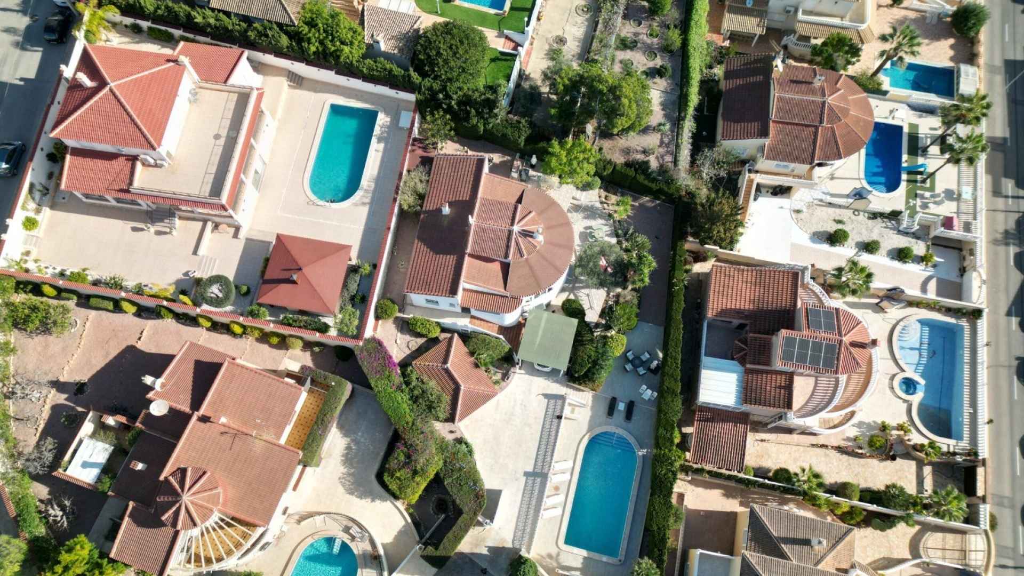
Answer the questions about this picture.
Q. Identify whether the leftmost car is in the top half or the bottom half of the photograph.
top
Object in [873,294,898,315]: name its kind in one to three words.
umbrella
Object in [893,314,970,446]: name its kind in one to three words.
swimming pool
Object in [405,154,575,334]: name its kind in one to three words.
house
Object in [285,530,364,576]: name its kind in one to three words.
swimming pool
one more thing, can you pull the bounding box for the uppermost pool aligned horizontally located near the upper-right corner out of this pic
[879,60,958,100]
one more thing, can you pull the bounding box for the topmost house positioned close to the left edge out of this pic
[48,40,304,237]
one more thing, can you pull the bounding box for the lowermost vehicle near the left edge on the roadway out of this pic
[0,134,25,178]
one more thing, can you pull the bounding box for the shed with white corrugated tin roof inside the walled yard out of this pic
[65,437,126,484]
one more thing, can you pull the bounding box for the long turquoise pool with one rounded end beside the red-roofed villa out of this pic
[304,99,384,207]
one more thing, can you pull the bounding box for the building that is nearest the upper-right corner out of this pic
[954,65,978,100]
